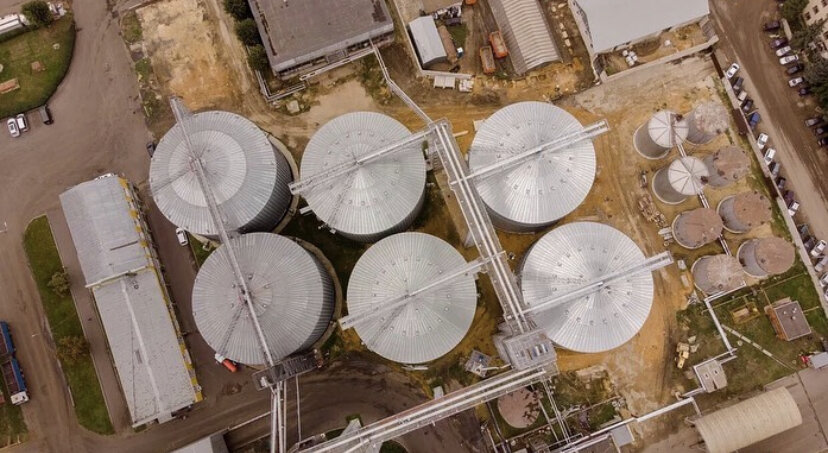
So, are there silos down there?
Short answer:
Yes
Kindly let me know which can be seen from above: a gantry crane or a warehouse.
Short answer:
warehouse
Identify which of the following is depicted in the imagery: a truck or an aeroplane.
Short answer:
truck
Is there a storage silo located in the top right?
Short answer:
Yes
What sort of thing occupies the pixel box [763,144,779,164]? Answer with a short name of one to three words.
car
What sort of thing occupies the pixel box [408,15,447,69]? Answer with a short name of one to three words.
shed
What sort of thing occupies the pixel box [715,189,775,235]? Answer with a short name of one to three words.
silo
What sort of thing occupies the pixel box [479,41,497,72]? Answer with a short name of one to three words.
vehicle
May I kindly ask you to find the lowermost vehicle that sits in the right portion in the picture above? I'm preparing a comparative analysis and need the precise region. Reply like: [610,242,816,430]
[675,344,695,372]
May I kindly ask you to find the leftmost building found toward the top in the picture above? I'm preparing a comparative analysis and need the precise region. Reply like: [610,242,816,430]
[249,0,395,83]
